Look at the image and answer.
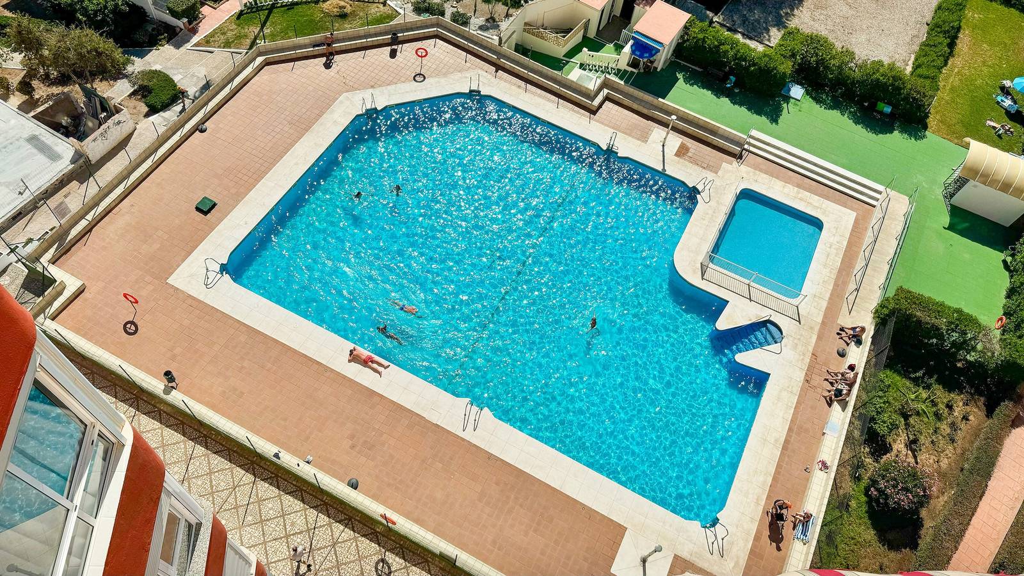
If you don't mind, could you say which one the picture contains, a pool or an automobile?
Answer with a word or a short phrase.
pool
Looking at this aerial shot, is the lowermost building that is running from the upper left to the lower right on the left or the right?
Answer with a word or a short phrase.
left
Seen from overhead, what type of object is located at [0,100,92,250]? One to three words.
shed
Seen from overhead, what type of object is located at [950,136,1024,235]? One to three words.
building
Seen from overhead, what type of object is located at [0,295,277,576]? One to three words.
building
